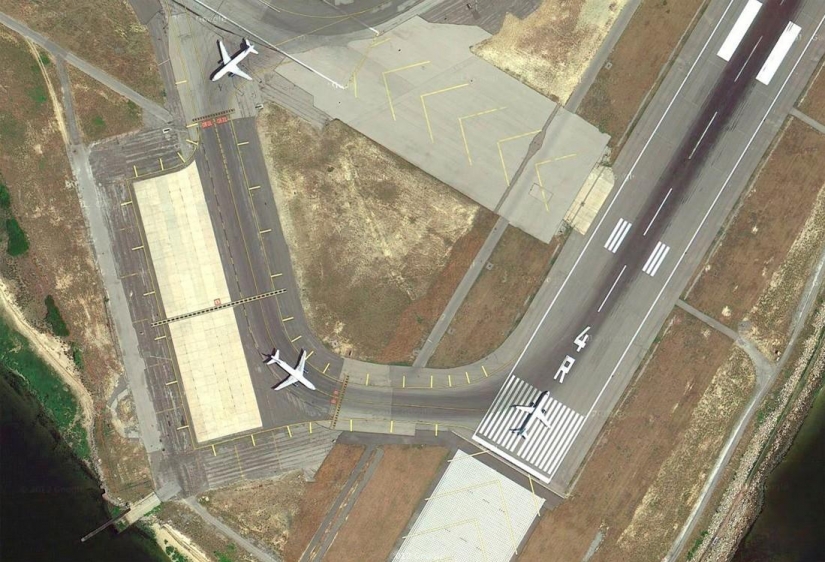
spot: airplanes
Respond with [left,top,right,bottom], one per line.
[265,349,316,391]
[516,391,553,436]
[212,39,260,81]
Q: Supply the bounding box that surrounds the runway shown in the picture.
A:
[452,0,825,497]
